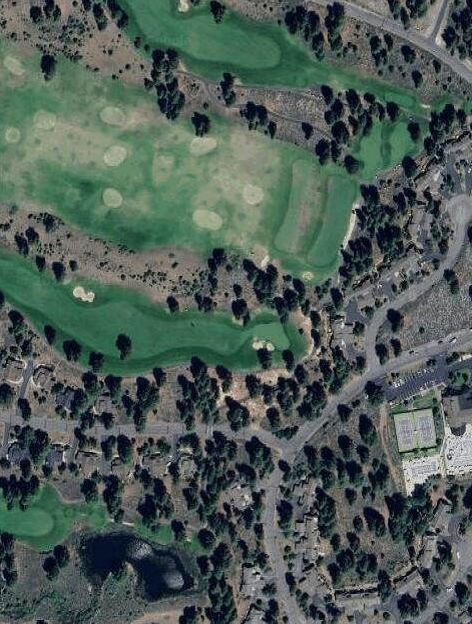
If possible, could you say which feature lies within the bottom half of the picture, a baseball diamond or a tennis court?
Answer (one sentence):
Visible within the bottom half of the picture is a tennis court.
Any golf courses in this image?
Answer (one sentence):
Yes, a golf course appears in the view.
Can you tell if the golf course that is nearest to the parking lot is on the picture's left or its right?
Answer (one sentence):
It is on the left.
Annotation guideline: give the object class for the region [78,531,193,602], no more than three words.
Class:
pond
